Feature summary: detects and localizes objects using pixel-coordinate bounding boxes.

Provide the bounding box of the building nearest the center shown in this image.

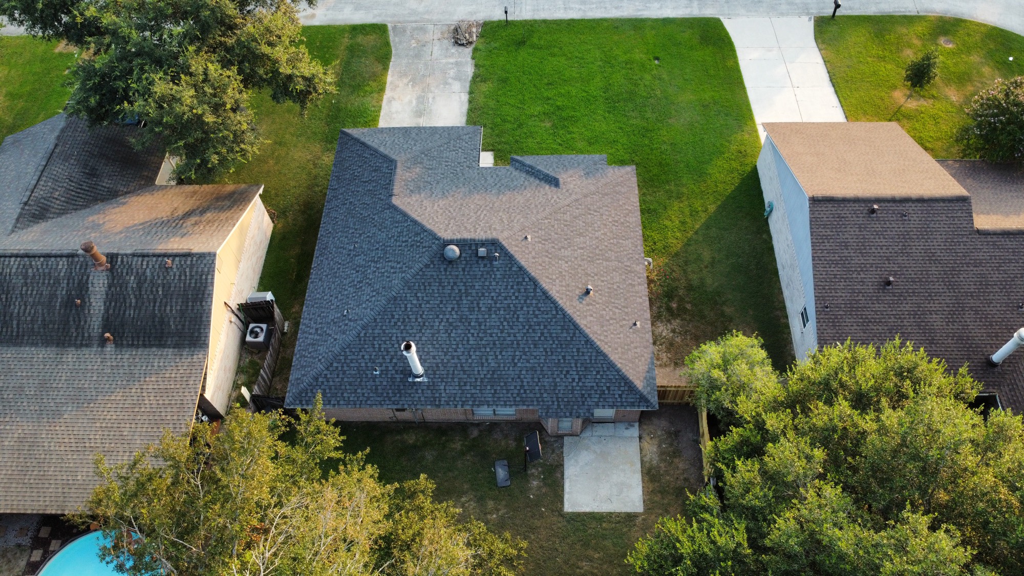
[282,125,659,436]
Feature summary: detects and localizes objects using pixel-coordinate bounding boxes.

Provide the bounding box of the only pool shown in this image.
[38,525,199,576]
